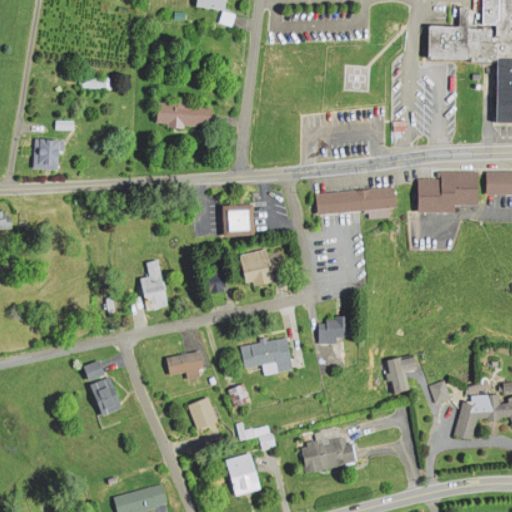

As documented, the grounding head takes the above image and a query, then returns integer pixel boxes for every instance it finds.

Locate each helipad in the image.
[344,64,370,92]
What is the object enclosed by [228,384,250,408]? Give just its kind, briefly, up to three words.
barn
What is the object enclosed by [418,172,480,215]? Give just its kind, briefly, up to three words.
building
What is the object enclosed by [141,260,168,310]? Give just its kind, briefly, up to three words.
house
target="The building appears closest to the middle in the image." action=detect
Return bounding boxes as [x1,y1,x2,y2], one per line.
[240,250,272,286]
